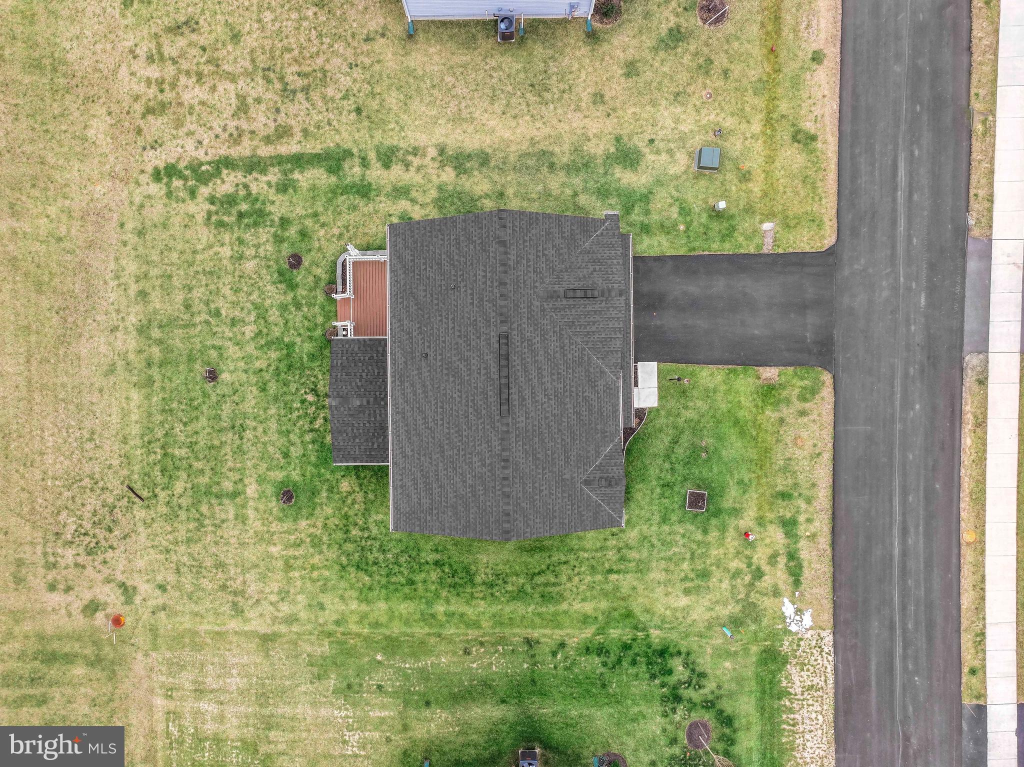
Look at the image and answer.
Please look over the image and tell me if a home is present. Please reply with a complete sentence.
Yes, a home appears in the view.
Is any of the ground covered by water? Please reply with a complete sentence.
No, no water is visible.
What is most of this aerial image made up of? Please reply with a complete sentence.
The scene is dominated by grass.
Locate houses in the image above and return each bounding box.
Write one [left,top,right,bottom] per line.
[401,0,596,27]
[329,207,634,543]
